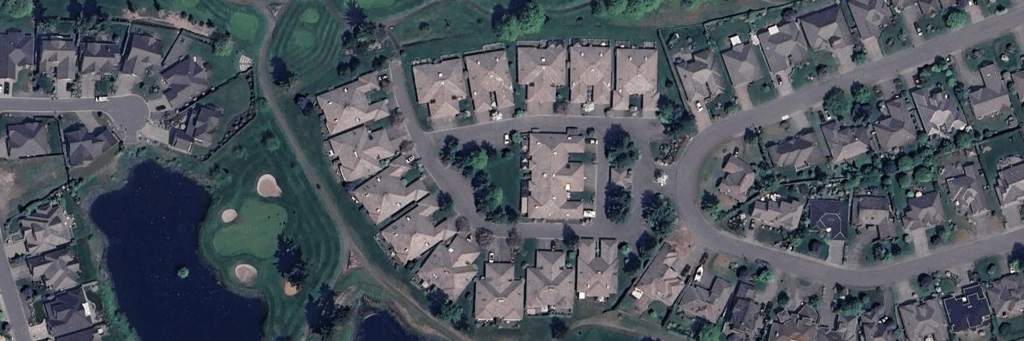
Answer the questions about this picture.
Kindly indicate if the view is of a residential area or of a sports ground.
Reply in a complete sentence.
It's a residential area.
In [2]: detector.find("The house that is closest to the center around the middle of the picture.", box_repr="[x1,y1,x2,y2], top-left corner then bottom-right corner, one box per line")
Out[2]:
[529,132,585,222]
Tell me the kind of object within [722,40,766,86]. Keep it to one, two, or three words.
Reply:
house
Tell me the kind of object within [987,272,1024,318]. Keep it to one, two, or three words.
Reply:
house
